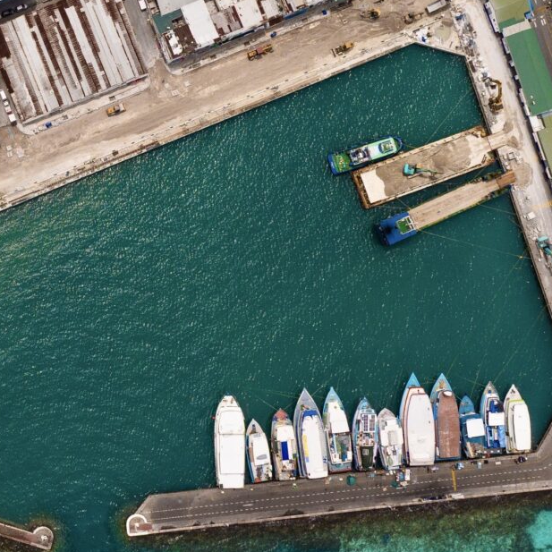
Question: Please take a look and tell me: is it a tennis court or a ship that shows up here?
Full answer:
Of the two, only a ship appears.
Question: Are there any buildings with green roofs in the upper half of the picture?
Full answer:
Yes, a building with a green roof appears in the upper half of the picture.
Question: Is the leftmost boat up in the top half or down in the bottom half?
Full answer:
The leftmost boat is in the bottom half of the image.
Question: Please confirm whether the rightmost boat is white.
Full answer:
Yes, white is the color of the rightmost boat.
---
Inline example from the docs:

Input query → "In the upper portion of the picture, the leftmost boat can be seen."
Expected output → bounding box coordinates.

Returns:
[326,136,405,175]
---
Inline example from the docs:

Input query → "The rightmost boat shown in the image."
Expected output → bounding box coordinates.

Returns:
[501,384,534,454]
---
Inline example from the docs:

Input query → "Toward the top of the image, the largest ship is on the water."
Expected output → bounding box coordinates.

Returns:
[350,124,520,208]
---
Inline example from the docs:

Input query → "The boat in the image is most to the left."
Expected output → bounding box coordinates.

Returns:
[212,391,246,489]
